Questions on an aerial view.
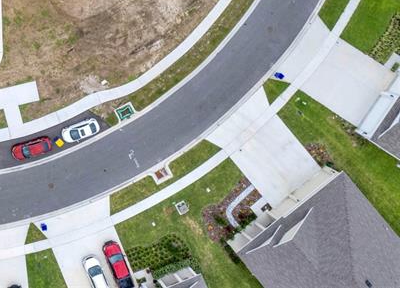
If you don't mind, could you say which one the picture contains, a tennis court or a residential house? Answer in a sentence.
It is a residential house that can be seen here.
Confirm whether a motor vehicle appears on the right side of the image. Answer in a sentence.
No, looking on the right side of the image, there is no motor vehicle.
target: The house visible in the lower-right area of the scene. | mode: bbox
[227,164,400,288]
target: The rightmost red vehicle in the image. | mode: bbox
[104,240,137,288]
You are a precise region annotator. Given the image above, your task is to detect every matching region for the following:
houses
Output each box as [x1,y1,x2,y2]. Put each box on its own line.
[227,164,400,288]
[147,264,207,288]
[359,74,400,164]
